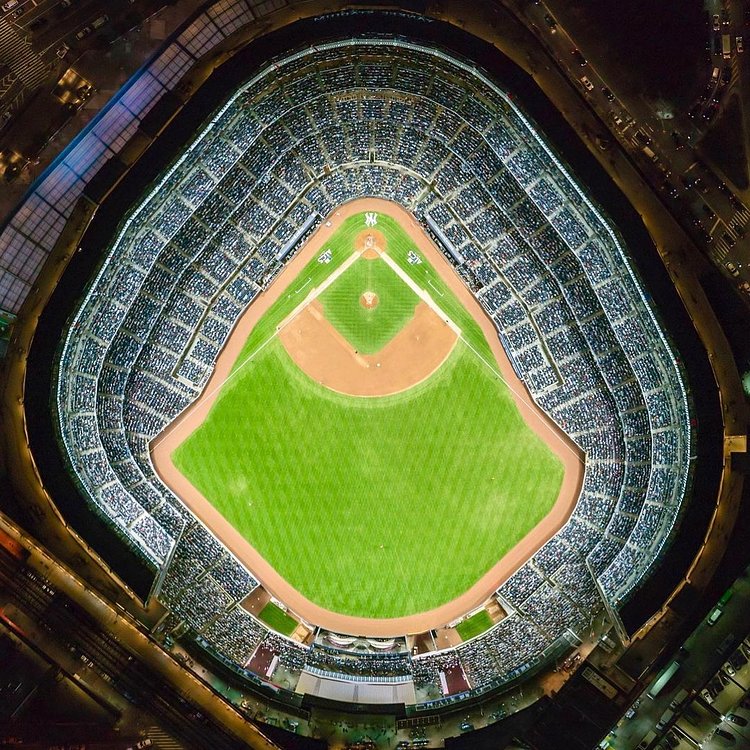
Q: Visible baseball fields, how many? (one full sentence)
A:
There is 1 baseball field in the image.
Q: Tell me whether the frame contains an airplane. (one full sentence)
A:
No, the photo shows no airplane.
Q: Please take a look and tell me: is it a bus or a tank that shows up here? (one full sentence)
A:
Visible in the photo is a bus.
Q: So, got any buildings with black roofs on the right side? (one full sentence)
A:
Yes, on the right side there is a building with a black roof.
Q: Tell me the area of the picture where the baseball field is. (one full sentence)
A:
The baseball field sits in the center section of the image.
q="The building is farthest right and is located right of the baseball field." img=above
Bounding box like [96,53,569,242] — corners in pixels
[727,436,746,471]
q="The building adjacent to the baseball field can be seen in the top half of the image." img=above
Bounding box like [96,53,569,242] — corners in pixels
[0,0,264,316]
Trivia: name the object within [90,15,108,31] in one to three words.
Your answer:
vehicle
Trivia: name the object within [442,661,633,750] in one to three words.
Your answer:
building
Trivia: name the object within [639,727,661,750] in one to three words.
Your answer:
truck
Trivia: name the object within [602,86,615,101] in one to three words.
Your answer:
vehicle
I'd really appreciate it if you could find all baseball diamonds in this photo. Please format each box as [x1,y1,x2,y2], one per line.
[150,198,586,635]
